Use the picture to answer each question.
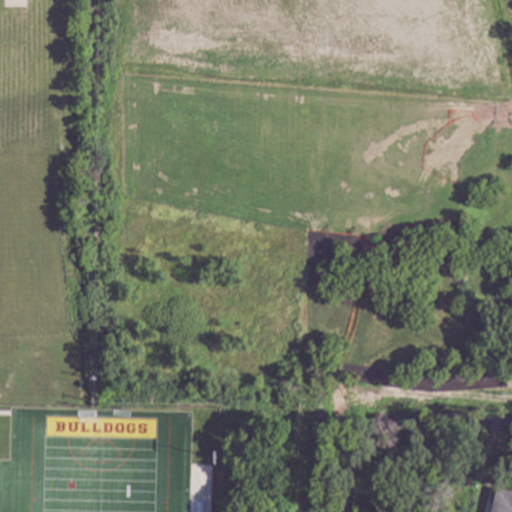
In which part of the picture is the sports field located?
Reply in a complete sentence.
The sports field is in the bottom left part of the image.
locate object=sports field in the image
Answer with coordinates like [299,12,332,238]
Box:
[0,406,192,512]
